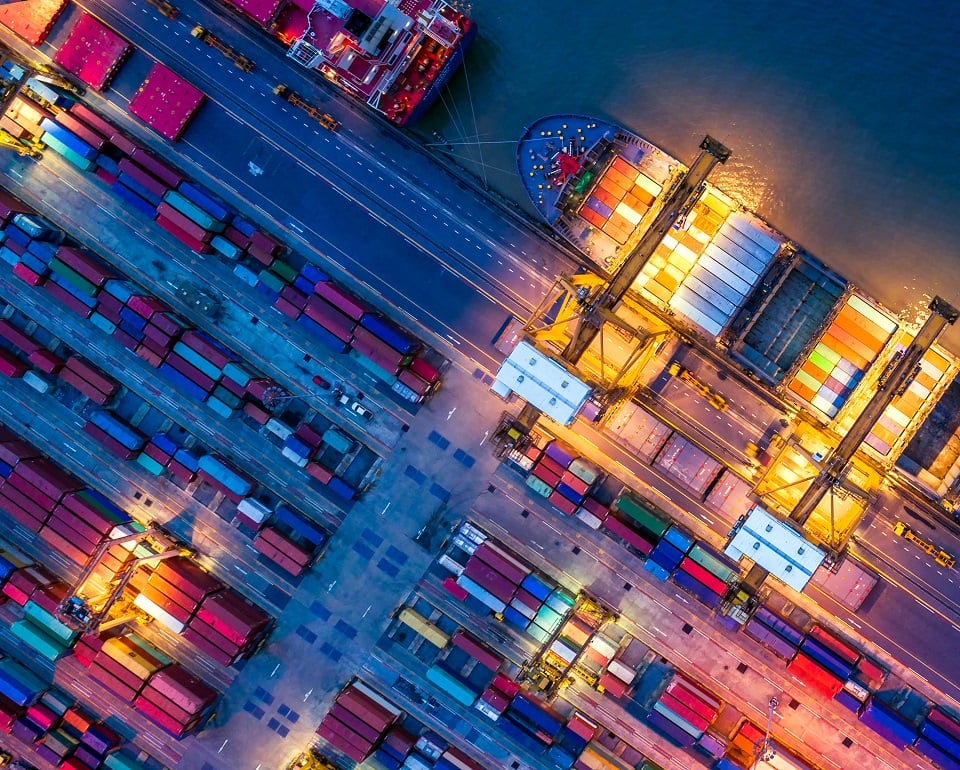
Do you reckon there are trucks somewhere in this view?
Yes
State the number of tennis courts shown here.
0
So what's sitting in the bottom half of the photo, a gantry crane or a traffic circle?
gantry crane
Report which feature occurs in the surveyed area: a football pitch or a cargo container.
cargo container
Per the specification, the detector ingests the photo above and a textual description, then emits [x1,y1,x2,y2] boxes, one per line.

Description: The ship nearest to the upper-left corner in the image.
[225,0,481,125]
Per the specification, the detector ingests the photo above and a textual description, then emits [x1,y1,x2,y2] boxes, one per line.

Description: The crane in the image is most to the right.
[714,292,960,616]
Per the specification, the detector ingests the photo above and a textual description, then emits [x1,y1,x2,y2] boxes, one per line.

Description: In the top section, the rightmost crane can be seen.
[486,129,735,457]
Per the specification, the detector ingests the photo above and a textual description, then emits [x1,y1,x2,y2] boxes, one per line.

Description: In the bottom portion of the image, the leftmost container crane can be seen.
[59,525,183,633]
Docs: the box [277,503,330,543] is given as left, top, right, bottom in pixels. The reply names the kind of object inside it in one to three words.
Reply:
shipping container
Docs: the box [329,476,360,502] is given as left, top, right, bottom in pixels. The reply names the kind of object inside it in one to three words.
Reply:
shipping container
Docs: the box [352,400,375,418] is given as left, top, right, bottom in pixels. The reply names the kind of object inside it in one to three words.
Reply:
vehicle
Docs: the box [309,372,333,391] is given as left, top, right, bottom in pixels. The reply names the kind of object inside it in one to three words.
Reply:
vehicle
